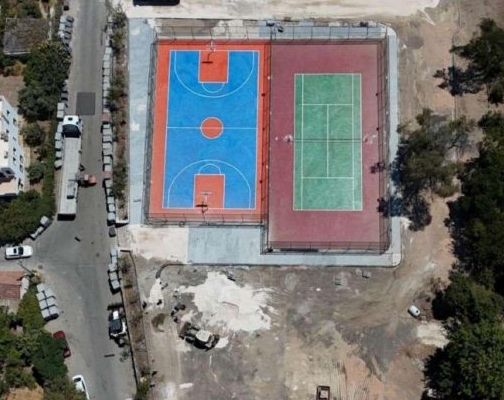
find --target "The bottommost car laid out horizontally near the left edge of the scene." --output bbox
[5,245,34,259]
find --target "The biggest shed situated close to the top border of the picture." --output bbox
[4,17,50,60]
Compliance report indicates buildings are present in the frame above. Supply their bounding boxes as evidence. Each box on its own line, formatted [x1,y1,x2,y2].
[0,271,33,315]
[4,17,50,60]
[0,94,24,200]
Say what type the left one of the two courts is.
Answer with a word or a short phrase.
basketball court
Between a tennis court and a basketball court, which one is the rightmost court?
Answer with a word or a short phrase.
tennis court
